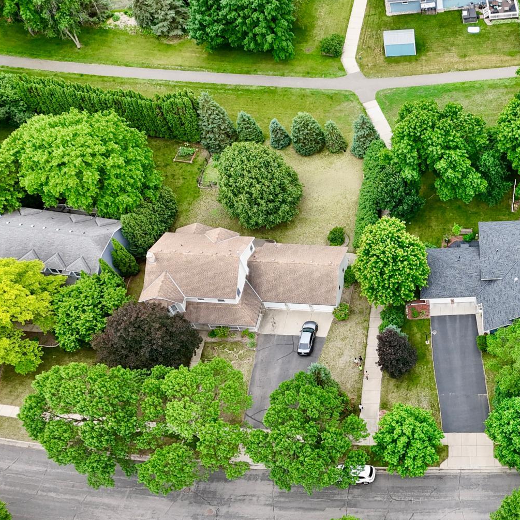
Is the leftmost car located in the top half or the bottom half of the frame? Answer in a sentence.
The leftmost car is in the bottom half of the image.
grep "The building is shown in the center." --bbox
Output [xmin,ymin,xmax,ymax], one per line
[139,217,349,334]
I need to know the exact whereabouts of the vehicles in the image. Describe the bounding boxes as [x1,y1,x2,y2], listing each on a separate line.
[295,321,317,356]
[340,469,375,485]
